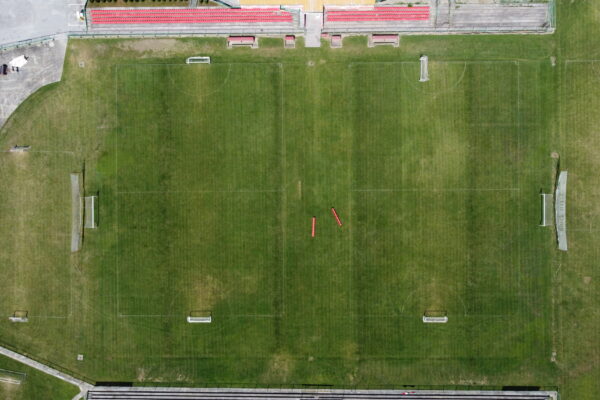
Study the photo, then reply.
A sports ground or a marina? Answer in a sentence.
The area seen from above is a sports ground.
